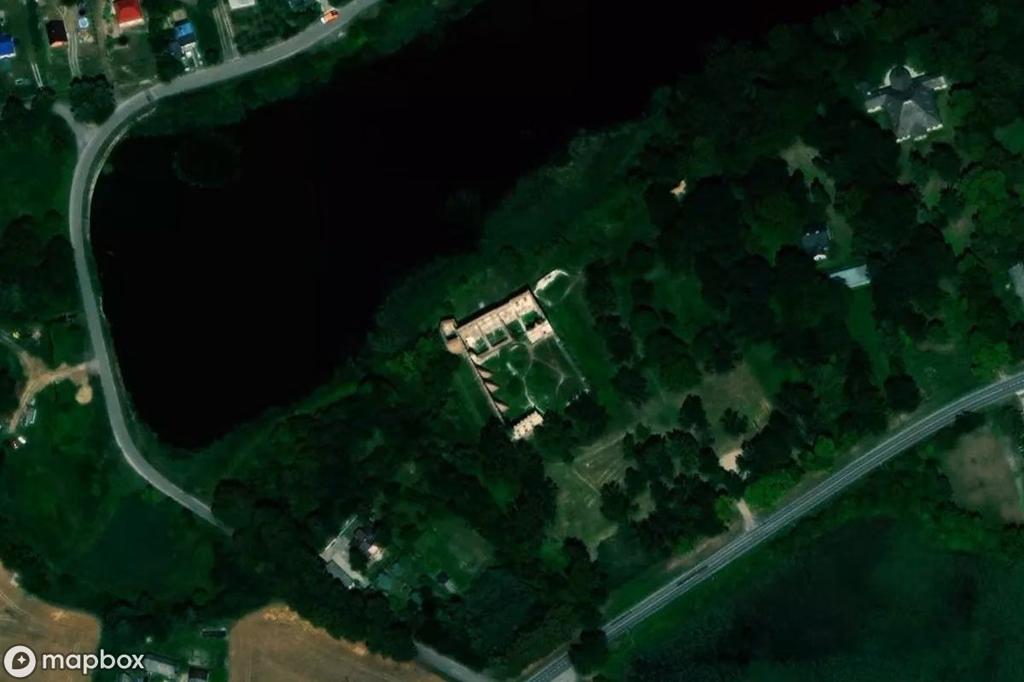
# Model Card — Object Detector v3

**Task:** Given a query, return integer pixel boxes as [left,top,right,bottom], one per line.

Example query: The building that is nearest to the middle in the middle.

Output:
[442,289,555,429]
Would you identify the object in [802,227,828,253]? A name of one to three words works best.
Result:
house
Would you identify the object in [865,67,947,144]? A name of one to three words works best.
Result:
house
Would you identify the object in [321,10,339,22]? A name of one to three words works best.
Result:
vehicle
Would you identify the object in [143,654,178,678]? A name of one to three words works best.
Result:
barn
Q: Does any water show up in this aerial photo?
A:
Yes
